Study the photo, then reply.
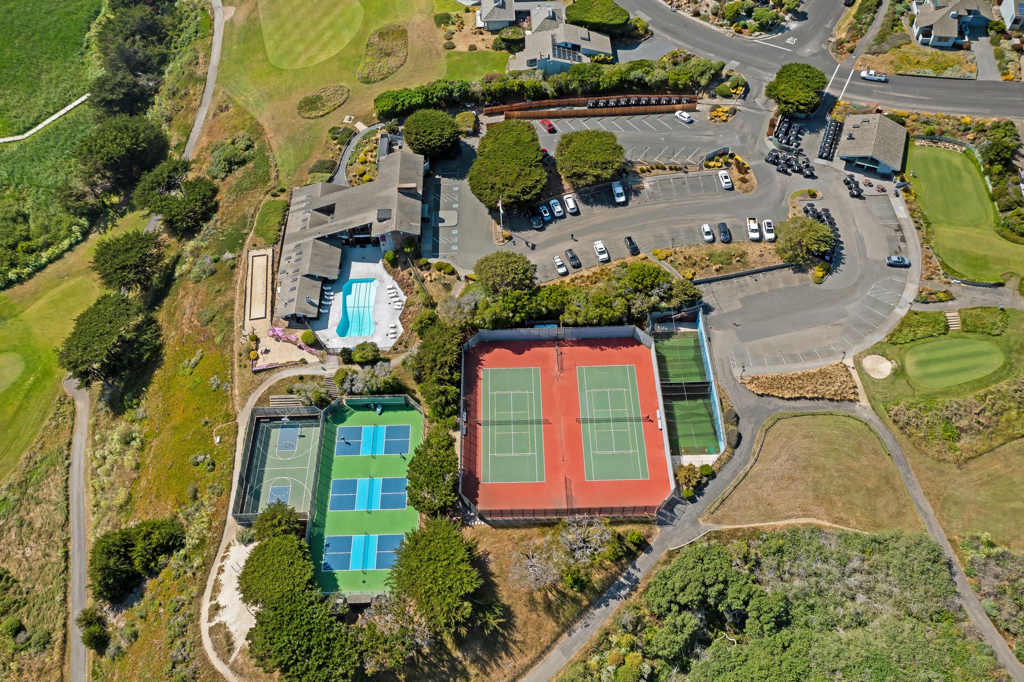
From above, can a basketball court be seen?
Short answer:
Yes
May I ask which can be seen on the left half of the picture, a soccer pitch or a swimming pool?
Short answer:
swimming pool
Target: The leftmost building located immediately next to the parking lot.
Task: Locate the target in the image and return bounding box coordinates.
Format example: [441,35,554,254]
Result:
[277,130,430,324]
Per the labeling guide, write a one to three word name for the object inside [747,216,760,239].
vehicle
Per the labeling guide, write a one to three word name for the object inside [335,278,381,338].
swimming pool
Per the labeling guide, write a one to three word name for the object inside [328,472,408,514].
sports court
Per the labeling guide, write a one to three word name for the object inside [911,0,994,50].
house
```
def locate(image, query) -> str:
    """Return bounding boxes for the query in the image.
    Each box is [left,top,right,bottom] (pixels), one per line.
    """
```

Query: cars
[624,235,639,254]
[540,119,556,133]
[717,223,731,242]
[612,181,626,203]
[524,207,542,228]
[761,220,775,239]
[564,195,577,213]
[718,171,731,188]
[747,216,760,239]
[549,200,563,217]
[700,223,713,242]
[552,256,567,275]
[593,241,608,261]
[565,249,580,268]
[538,205,550,221]
[675,111,691,124]
[886,256,910,268]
